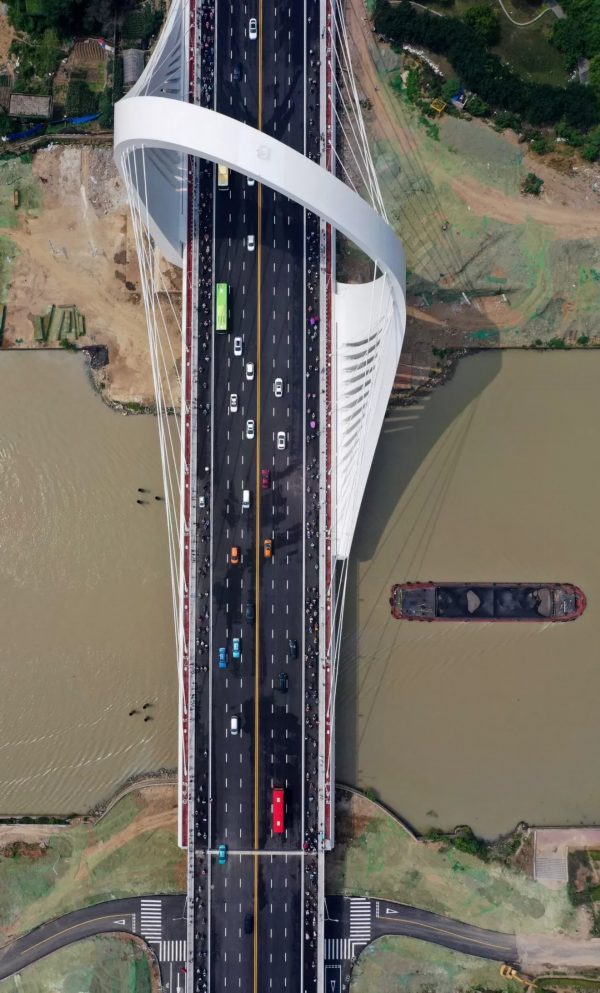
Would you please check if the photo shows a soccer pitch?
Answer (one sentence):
No, I can't see a single soccer pitch in this photo.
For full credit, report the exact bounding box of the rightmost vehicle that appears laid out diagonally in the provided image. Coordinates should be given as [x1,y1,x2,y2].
[499,960,541,989]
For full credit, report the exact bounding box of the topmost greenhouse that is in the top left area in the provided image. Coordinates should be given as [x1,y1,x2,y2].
[124,48,143,83]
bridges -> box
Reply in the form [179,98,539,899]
[114,0,406,993]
